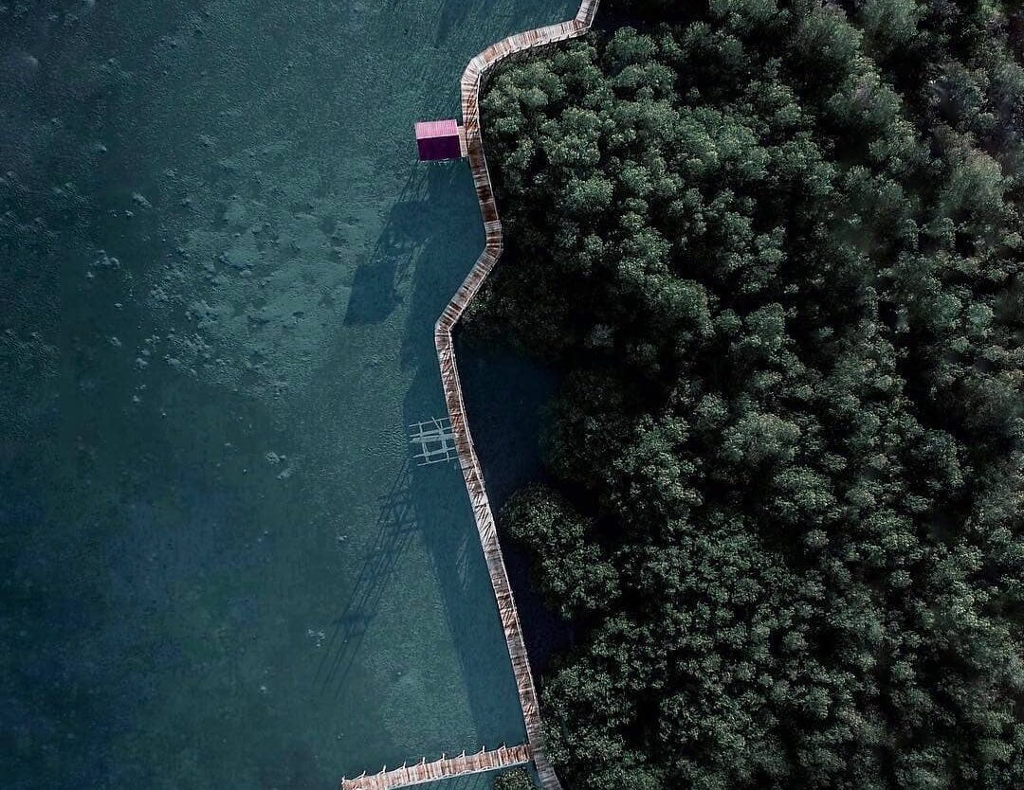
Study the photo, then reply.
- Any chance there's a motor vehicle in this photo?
No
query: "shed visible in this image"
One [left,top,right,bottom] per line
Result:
[416,119,469,163]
